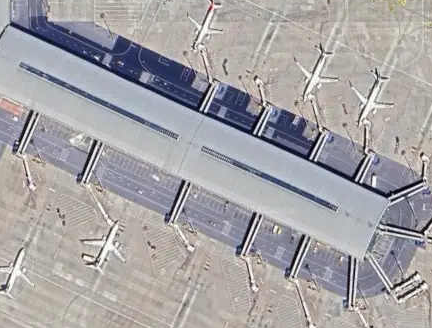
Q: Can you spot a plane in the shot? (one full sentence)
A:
Yes, a plane is visible in the scene.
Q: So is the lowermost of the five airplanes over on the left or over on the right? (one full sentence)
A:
You can find the lowermost of the five airplanes on the left side of the picture.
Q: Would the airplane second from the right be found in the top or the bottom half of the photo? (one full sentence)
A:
The airplane second from the right sits in the top half of the picture.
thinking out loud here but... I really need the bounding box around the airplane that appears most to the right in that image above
[346,71,398,126]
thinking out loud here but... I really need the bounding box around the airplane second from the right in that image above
[292,46,341,100]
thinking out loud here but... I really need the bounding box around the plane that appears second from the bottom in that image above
[80,222,126,272]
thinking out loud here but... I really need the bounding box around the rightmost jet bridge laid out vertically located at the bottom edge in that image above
[342,255,373,328]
